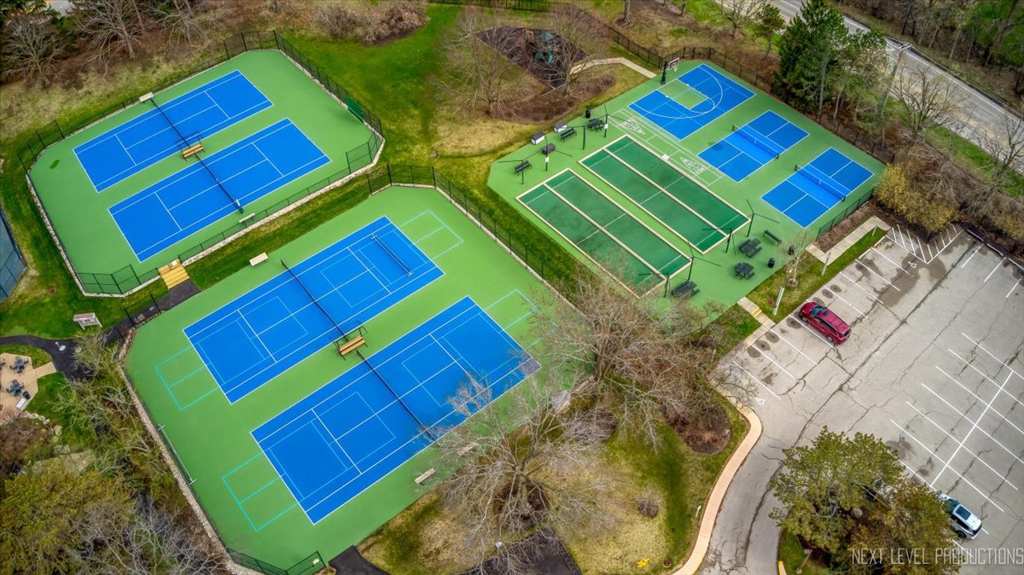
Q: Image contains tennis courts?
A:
Yes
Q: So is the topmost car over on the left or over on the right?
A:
right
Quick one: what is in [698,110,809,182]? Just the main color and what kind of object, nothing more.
blue sports court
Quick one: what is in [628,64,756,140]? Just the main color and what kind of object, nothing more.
blue basketball court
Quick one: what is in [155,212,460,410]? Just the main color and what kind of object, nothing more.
blue tennis court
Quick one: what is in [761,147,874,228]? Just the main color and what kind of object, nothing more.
blue sports court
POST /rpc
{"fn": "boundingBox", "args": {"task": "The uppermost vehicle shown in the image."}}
[798,305,855,348]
